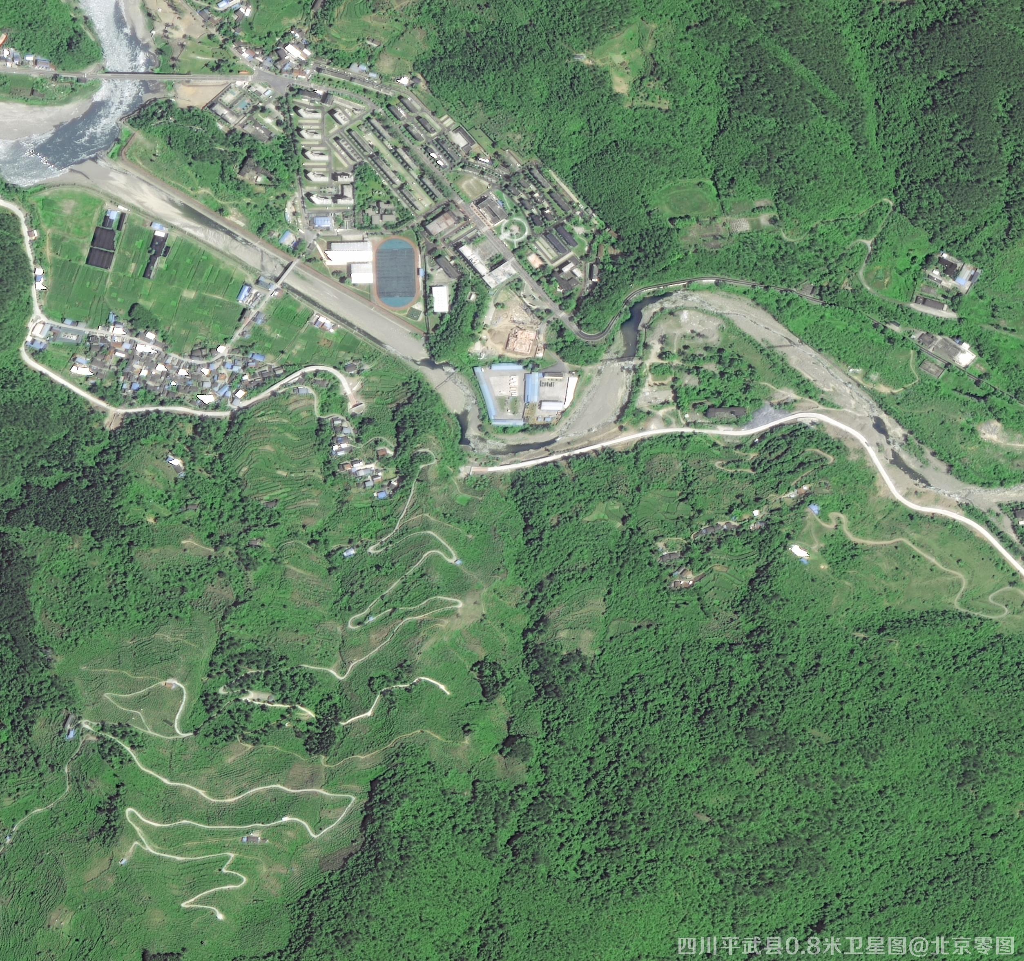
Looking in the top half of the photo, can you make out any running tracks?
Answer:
Yes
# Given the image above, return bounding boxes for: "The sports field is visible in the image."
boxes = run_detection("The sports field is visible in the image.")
[376,248,415,296]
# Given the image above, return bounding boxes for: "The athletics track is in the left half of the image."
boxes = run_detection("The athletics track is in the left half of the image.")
[372,235,420,309]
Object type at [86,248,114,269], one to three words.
house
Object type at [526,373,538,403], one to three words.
building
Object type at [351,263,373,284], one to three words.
building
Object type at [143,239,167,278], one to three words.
house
